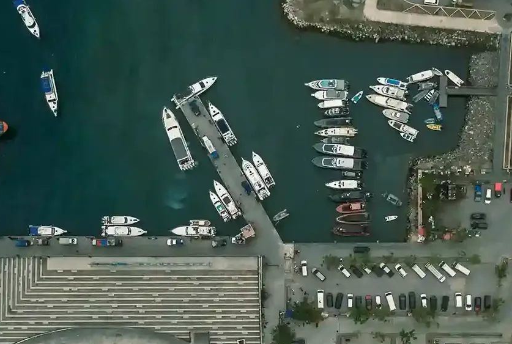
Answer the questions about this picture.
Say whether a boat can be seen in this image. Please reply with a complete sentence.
Yes, a boat is visible in the scene.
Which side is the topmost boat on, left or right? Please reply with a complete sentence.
The topmost boat sits on the left side.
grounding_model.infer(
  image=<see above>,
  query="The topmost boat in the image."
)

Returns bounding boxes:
[15,0,41,39]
